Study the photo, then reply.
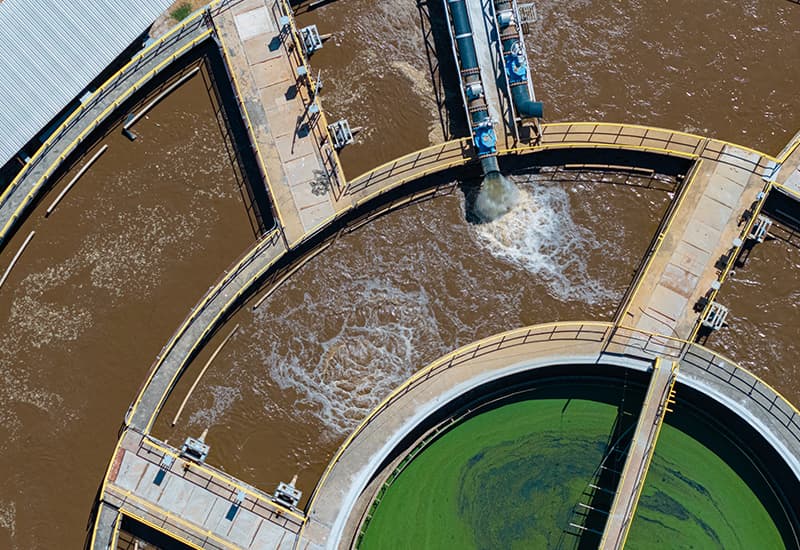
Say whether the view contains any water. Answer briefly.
Yes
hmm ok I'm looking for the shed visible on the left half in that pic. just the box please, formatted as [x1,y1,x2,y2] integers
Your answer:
[0,0,175,175]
